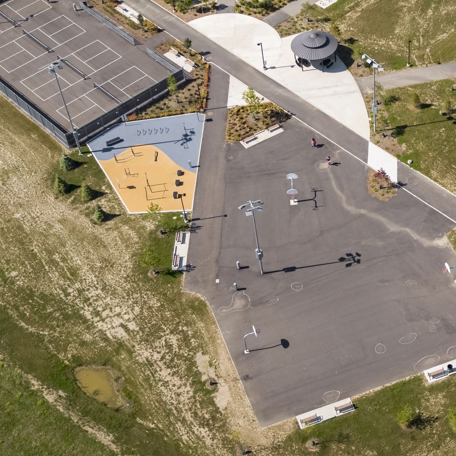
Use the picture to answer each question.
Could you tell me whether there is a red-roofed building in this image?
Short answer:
No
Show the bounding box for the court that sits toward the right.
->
[197,116,456,427]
